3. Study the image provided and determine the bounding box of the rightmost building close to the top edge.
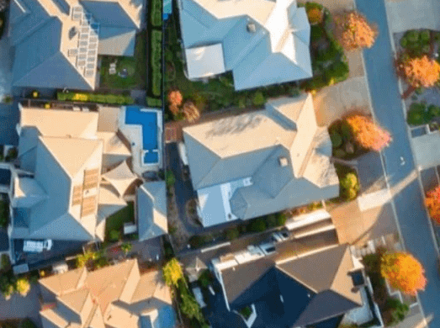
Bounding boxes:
[176,0,313,91]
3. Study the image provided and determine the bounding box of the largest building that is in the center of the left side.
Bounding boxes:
[12,106,133,243]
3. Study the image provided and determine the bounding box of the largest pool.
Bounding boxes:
[122,103,162,151]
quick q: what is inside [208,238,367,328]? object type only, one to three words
house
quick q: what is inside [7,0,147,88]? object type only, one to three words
house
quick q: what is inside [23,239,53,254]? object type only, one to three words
vehicle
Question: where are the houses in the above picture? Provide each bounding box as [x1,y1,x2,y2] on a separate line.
[208,238,367,328]
[12,106,133,243]
[176,0,313,91]
[33,256,173,328]
[7,0,147,88]
[181,91,342,227]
